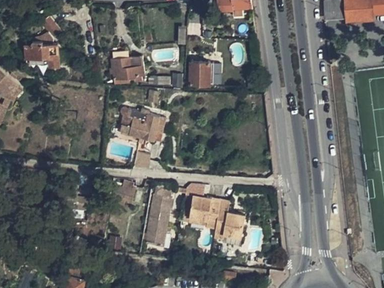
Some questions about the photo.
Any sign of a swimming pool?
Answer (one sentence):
Yes, this view includes a swimming pool.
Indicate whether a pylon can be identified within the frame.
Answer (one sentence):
No, no pylon can be seen from above.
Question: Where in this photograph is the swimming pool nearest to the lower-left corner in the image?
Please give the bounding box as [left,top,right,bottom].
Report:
[108,138,138,164]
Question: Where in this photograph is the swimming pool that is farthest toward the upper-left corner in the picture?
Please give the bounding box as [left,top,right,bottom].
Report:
[152,46,179,64]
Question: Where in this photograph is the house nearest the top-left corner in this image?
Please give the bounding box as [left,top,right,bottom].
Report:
[24,16,61,68]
